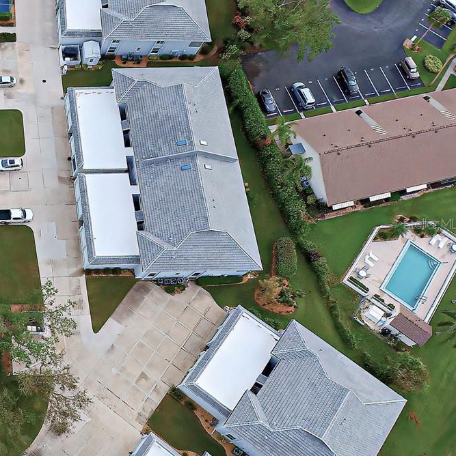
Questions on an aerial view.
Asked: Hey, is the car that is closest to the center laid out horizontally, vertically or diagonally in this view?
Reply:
diagonally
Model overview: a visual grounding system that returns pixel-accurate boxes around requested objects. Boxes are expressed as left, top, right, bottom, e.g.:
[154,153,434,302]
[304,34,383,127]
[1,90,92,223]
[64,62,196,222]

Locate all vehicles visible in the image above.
[292,82,317,108]
[0,208,33,223]
[398,54,422,79]
[335,66,361,93]
[438,4,456,23]
[439,0,456,10]
[0,75,17,88]
[0,156,23,171]
[256,89,279,113]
